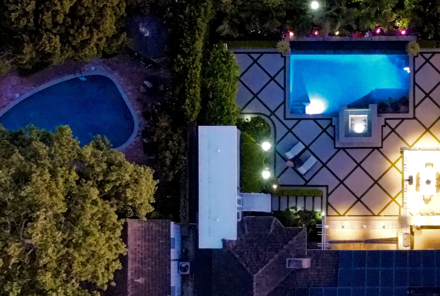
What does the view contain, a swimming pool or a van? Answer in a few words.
swimming pool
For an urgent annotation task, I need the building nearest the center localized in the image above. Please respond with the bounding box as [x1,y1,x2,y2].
[197,125,247,249]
